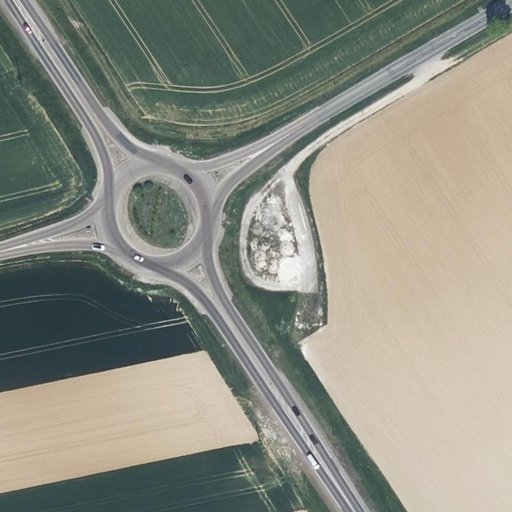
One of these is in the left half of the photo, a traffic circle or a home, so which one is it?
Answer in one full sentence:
Visible in the left half of the photo is a traffic circle.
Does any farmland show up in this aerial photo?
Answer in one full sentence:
Yes, the picture does contain farmland.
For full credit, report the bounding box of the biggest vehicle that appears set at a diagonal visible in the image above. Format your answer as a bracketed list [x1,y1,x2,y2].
[306,452,320,470]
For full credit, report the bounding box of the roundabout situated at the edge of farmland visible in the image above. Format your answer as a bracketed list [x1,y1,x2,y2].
[98,156,218,274]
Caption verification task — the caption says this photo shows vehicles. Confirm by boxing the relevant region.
[306,452,320,470]
[92,244,105,250]
[22,22,32,34]
[308,434,319,446]
[182,173,194,185]
[291,405,302,418]
[134,254,144,262]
